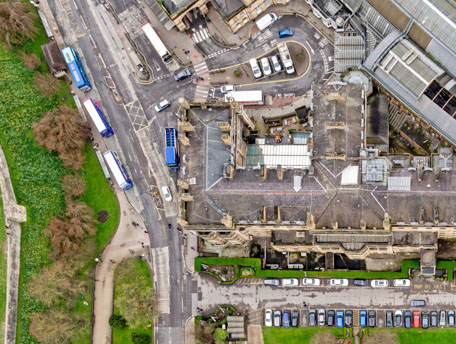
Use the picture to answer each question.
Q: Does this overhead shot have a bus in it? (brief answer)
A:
Yes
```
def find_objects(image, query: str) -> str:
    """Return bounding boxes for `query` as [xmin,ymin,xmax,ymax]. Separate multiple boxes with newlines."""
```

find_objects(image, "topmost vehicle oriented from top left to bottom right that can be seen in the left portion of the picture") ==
[141,22,174,66]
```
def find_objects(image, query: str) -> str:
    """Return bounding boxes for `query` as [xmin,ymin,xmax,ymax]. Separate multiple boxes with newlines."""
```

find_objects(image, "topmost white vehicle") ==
[255,14,276,31]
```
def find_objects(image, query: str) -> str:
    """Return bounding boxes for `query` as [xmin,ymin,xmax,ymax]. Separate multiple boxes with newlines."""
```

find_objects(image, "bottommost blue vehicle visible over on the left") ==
[167,127,181,171]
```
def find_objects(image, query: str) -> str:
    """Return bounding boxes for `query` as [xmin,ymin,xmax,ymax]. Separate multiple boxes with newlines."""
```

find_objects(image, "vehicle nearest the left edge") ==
[62,49,93,95]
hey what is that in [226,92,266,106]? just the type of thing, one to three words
vehicle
